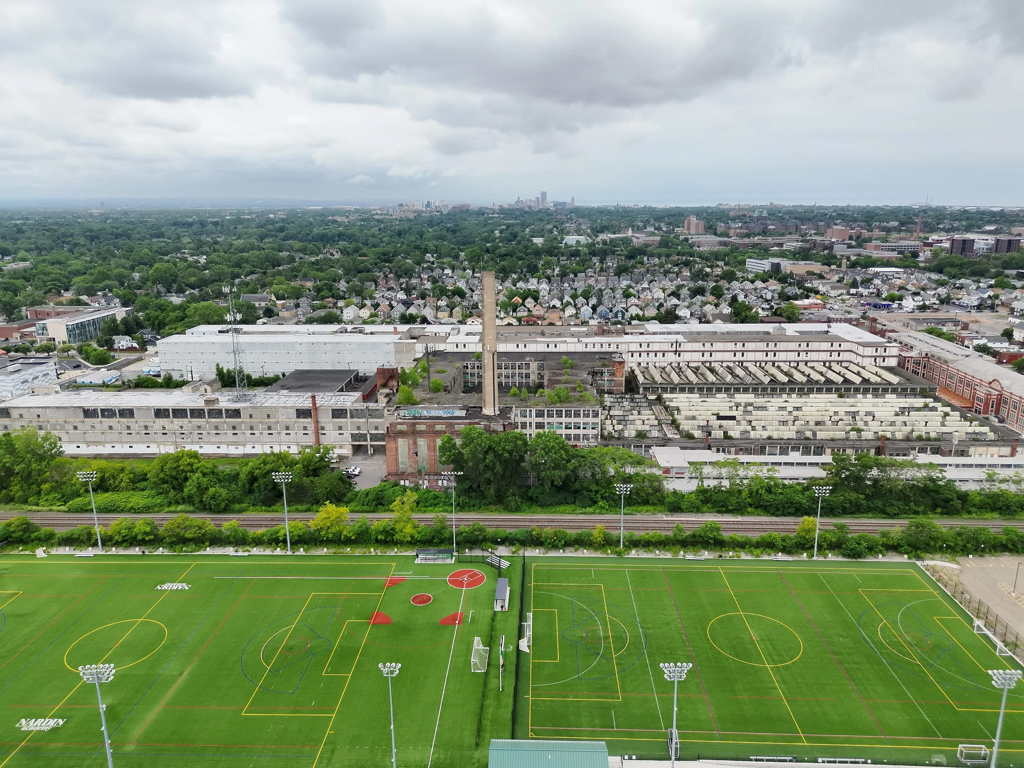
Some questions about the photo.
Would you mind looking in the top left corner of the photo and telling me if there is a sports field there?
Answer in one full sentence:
No, there is no sports field in the top left corner of the photo.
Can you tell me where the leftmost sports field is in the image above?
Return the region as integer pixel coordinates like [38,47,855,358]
[0,554,524,768]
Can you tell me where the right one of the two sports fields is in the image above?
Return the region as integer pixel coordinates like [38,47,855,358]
[514,556,1024,768]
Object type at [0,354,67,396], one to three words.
building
